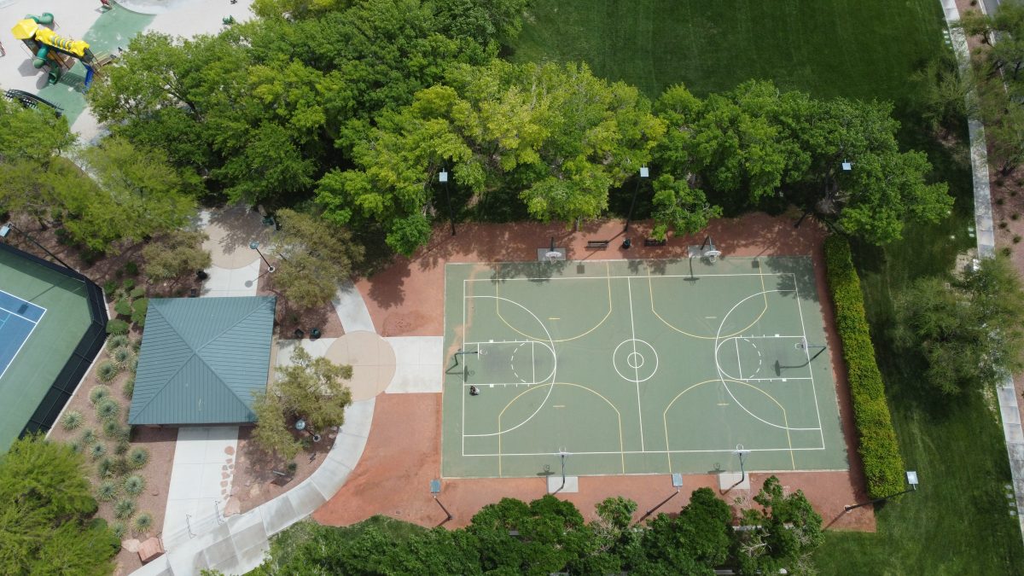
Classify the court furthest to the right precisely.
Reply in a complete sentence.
In the photo, the court furthest to the right shows up as a basketball court.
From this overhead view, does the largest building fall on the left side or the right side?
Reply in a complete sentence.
The largest building appears in the left half of the scene.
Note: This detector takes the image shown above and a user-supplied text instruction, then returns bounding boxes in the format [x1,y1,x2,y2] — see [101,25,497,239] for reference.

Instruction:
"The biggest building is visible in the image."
[126,294,276,426]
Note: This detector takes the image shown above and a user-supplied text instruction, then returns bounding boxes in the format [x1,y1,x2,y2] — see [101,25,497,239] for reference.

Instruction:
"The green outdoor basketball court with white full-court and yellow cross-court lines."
[442,255,849,478]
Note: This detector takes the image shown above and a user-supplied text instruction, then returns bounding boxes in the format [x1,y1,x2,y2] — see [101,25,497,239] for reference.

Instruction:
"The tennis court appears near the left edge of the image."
[0,248,111,463]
